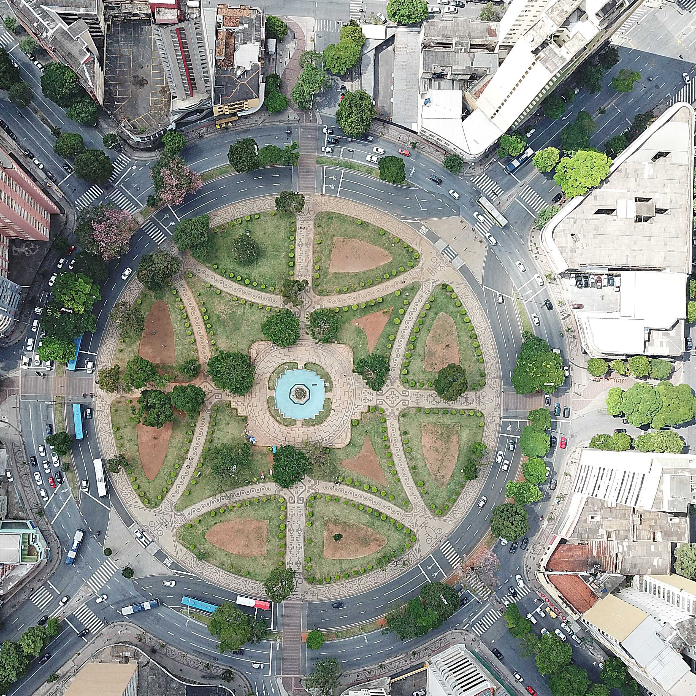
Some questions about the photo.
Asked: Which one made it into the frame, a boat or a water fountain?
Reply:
water fountain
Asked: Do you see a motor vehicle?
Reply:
Yes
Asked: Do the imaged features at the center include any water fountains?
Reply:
Yes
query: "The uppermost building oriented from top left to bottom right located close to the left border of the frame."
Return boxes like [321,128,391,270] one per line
[0,0,109,115]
